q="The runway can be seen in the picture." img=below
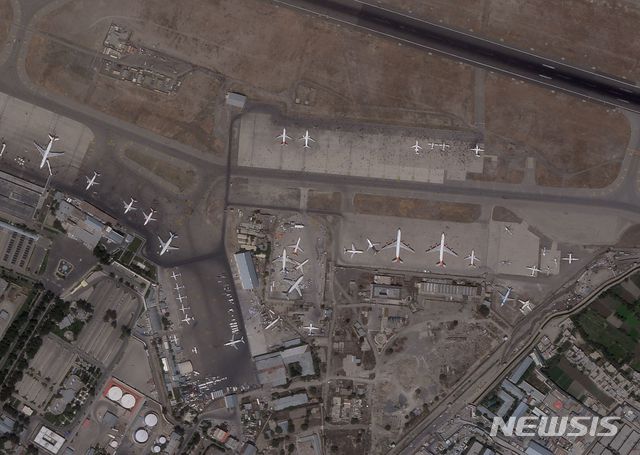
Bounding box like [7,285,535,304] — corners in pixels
[269,0,640,112]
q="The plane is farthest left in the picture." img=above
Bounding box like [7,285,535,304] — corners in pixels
[32,136,62,168]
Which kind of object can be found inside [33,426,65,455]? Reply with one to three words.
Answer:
building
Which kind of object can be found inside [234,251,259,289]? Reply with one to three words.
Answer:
hangar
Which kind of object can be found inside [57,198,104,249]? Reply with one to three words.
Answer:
building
